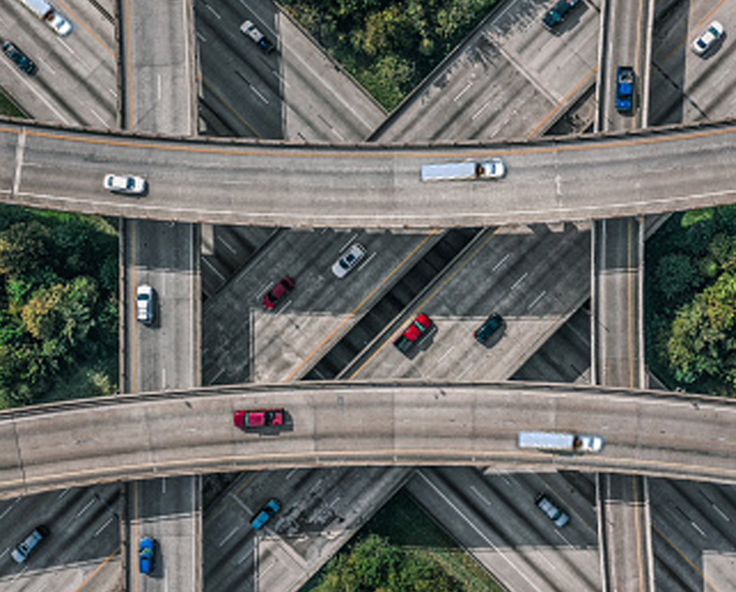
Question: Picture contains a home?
No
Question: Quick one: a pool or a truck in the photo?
truck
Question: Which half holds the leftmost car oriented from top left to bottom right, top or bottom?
top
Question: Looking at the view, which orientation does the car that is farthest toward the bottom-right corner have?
diagonally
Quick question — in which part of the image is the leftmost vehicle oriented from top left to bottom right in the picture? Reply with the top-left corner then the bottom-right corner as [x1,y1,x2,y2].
[1,40,36,74]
